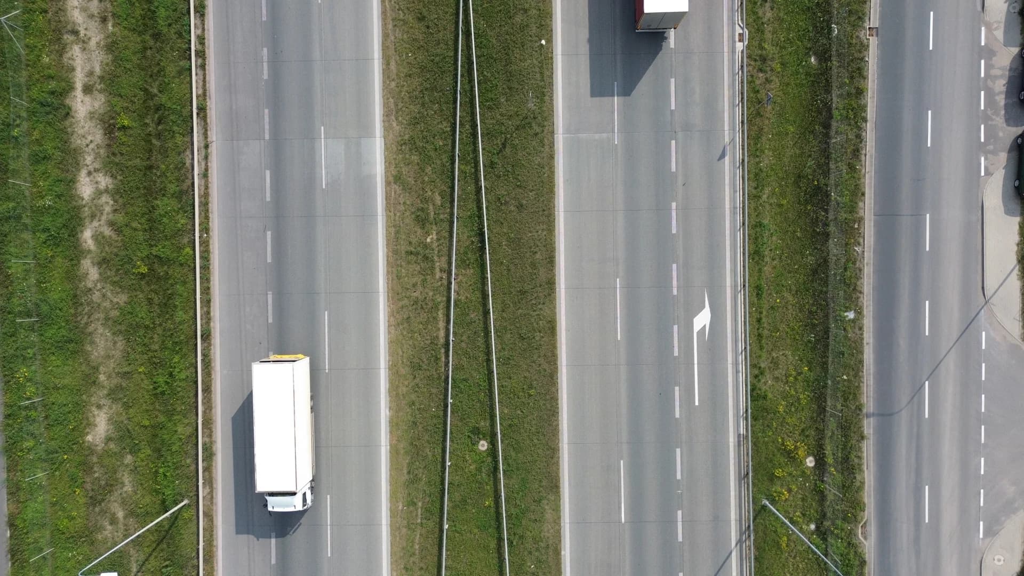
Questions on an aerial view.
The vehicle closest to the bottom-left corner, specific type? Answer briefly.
truck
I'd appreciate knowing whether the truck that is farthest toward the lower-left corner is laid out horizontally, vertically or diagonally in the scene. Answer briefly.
vertically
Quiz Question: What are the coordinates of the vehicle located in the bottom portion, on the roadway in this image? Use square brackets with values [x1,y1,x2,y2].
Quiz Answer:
[252,355,317,510]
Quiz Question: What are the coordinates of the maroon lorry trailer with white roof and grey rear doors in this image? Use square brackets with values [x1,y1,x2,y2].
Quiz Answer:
[634,0,689,35]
